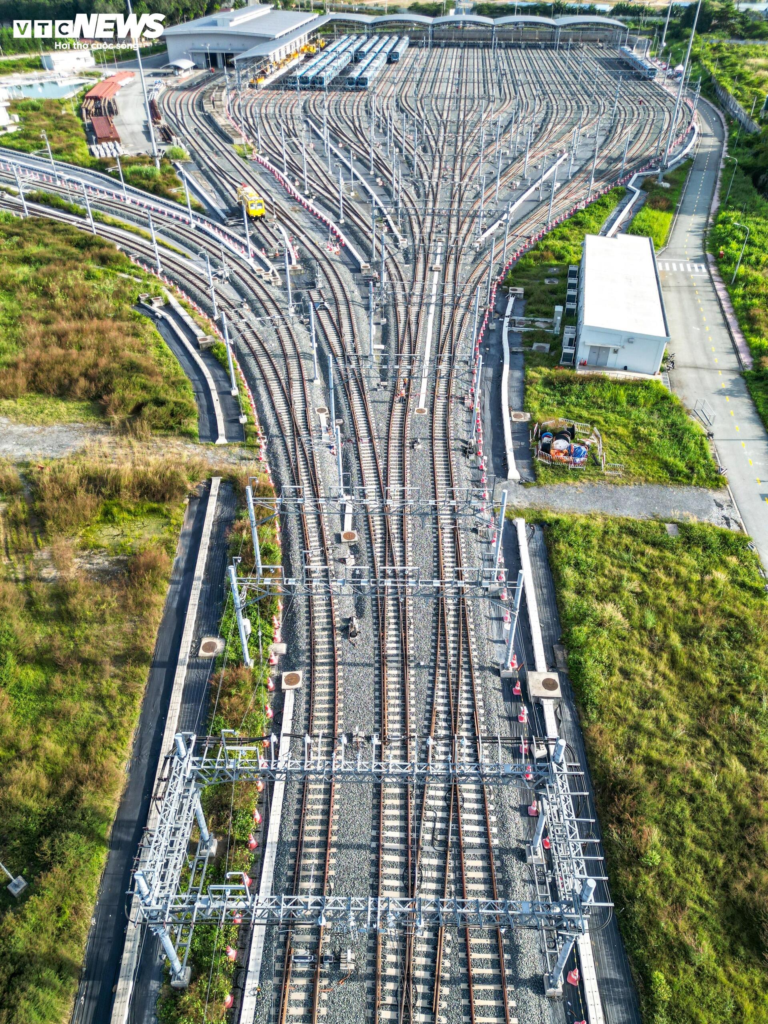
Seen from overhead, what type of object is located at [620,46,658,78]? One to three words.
train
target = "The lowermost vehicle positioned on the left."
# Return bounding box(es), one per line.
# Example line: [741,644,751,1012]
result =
[228,173,265,219]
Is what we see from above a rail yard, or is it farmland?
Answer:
rail yard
